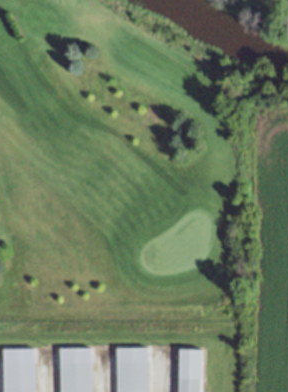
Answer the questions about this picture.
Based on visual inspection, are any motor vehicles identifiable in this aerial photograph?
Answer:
No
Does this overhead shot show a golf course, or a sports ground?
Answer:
golf course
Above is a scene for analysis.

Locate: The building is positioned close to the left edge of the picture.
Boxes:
[2,348,36,392]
